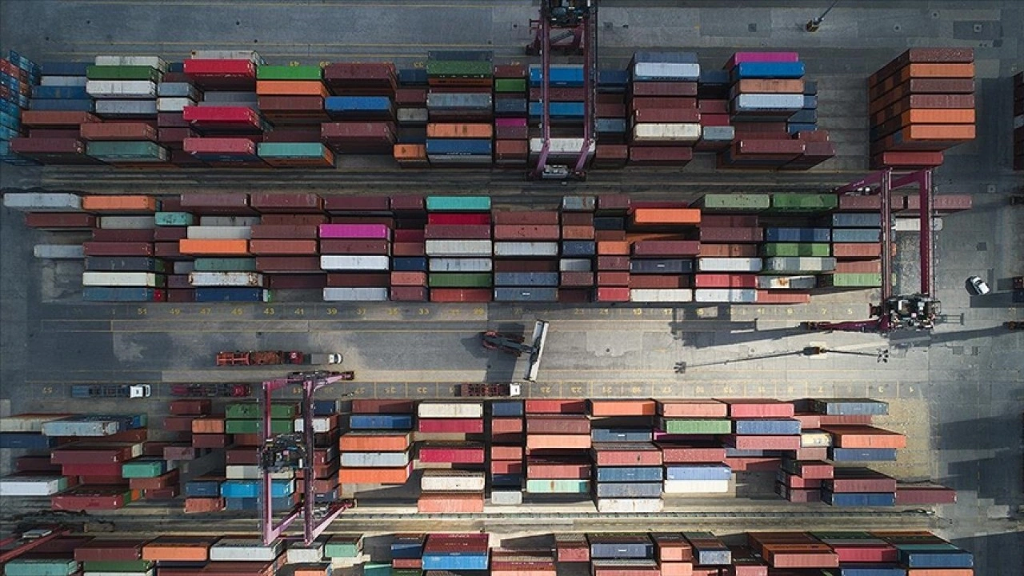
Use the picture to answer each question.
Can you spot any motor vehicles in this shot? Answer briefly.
Yes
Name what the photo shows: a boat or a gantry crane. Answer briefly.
gantry crane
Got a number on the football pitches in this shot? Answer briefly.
0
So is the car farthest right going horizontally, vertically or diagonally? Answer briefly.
diagonally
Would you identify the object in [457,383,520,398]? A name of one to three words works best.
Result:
vehicle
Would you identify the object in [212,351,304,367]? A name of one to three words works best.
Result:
vehicle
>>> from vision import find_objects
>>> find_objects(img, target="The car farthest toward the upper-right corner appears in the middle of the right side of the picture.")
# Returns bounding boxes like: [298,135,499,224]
[969,275,990,296]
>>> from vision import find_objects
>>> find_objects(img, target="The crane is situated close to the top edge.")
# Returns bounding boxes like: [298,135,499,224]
[517,0,594,175]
